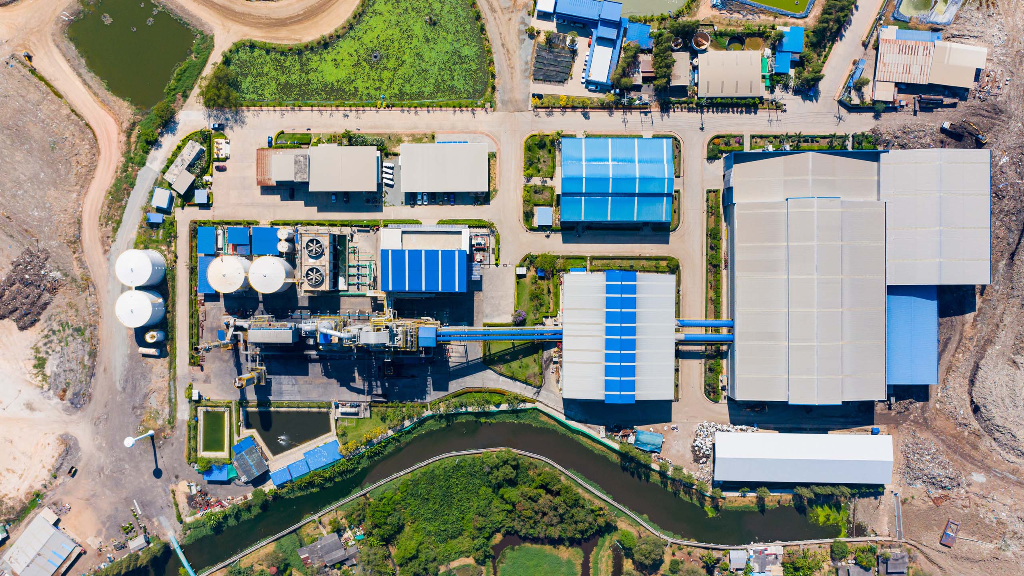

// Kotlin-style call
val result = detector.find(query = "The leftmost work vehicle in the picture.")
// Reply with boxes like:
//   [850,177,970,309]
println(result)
[18,49,34,71]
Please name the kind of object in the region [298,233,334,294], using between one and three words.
cooling tower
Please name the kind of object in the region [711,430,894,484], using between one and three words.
building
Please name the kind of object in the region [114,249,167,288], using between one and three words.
storage tank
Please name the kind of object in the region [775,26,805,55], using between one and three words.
house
